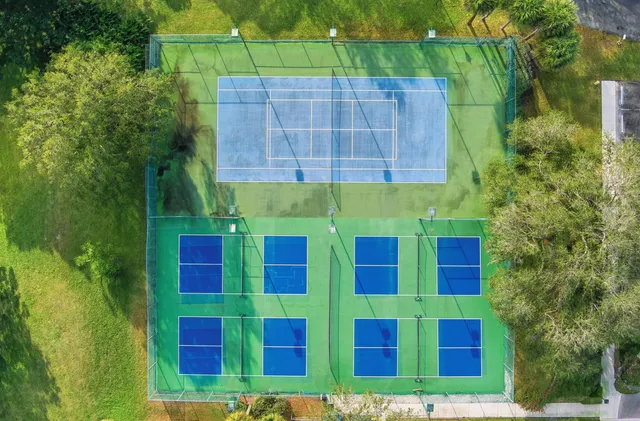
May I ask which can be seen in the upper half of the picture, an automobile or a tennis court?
tennis court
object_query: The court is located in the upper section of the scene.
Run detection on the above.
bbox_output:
[156,41,508,217]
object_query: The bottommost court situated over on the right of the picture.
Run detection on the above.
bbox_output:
[353,318,482,377]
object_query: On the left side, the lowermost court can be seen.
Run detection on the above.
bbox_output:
[178,317,308,375]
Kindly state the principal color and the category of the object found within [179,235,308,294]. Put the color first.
blue sports court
